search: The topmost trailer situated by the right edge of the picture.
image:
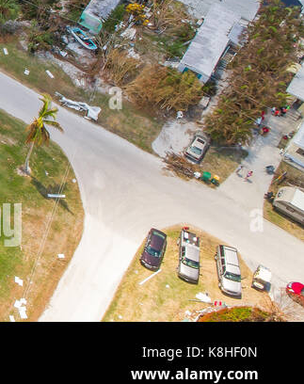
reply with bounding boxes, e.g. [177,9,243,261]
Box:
[256,187,304,242]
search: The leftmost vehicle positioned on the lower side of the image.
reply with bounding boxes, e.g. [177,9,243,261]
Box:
[139,226,169,273]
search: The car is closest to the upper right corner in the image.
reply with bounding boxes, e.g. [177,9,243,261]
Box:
[181,129,214,165]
